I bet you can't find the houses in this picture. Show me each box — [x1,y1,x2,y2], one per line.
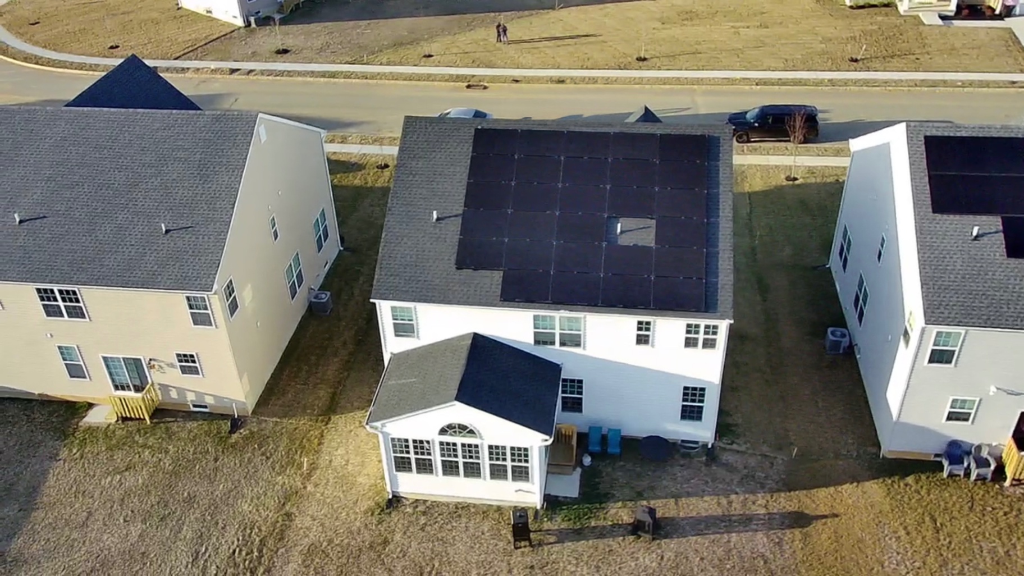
[190,0,338,27]
[843,0,1024,20]
[0,54,350,437]
[361,105,735,525]
[822,123,1024,464]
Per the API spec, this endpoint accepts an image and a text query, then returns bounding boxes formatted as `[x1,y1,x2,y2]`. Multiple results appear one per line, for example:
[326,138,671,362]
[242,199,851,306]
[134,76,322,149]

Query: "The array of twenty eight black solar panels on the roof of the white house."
[455,128,708,312]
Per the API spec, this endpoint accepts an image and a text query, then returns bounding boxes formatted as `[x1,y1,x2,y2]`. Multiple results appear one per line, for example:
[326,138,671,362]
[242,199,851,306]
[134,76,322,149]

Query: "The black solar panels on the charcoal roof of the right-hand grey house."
[926,133,1024,260]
